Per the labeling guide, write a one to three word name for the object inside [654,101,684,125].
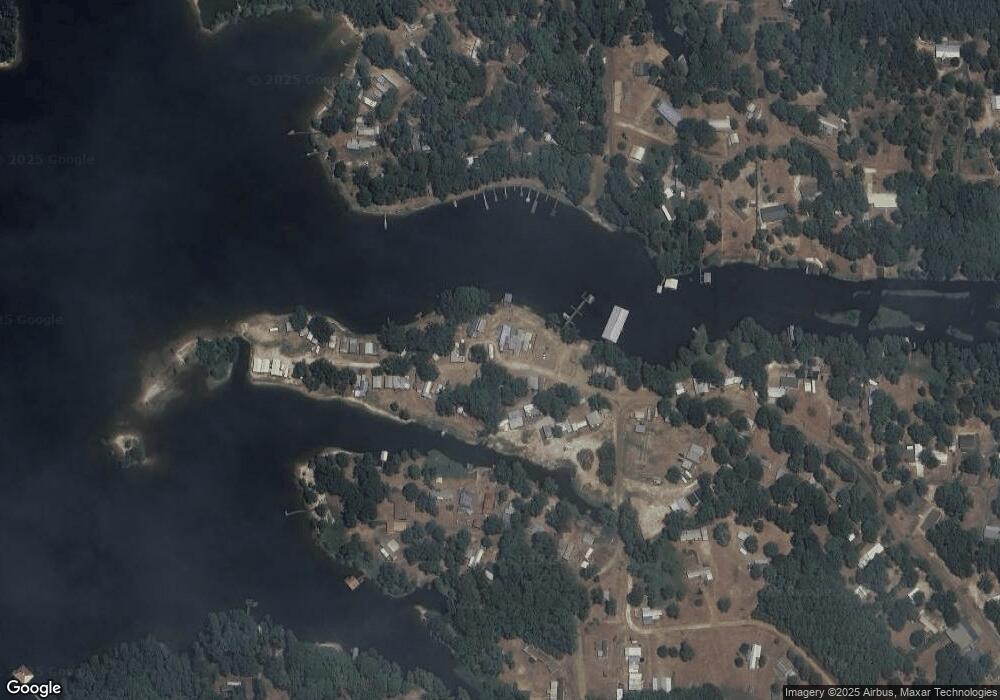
house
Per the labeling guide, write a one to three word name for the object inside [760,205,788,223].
house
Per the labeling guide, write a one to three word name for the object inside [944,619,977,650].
building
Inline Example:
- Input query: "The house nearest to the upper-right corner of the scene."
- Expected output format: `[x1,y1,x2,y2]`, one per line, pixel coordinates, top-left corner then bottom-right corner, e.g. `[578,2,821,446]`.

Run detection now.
[936,44,960,62]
